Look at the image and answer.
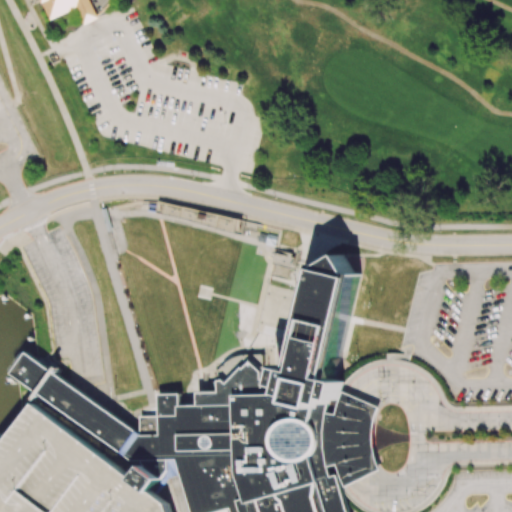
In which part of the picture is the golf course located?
top right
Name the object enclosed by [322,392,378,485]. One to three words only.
building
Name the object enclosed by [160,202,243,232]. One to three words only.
building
